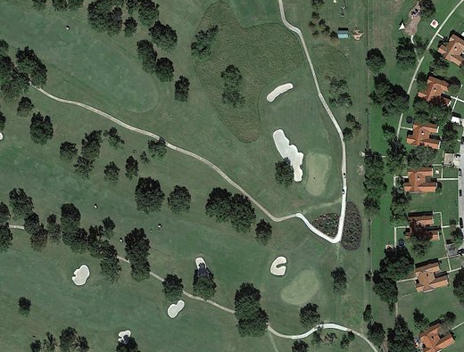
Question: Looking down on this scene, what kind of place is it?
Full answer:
The area seen from above is a golf course.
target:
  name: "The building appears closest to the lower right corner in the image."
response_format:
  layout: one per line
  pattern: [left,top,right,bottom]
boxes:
[418,322,457,352]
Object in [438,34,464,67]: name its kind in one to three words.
house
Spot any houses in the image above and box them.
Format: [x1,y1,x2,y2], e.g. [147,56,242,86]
[404,215,440,240]
[418,322,457,352]
[404,166,438,192]
[417,72,453,105]
[407,122,441,148]
[415,260,450,294]
[438,34,464,67]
